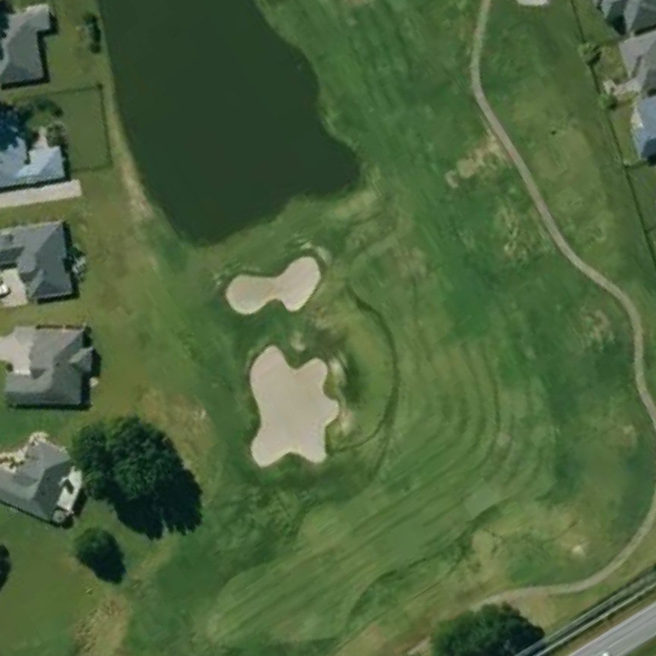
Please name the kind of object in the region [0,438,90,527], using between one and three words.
house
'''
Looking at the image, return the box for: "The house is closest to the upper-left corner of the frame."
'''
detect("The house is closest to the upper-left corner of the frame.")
[0,4,51,83]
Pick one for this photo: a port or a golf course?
golf course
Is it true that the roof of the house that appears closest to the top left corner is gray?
Yes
